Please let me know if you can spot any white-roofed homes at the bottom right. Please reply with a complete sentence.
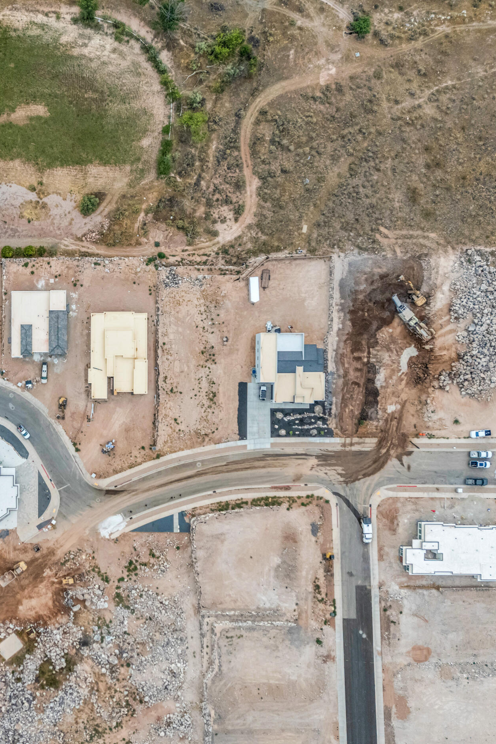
Yes, you'll find a white-roofed home at the bottom right.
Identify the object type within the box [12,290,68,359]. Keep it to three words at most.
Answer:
house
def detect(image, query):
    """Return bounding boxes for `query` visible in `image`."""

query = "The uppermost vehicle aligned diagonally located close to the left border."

[15,423,33,446]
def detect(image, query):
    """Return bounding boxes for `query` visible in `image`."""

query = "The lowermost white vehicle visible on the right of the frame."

[360,517,373,544]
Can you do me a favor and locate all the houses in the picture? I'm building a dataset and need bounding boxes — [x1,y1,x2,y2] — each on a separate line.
[87,312,148,399]
[12,290,68,359]
[399,520,496,580]
[0,466,20,519]
[254,333,325,404]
